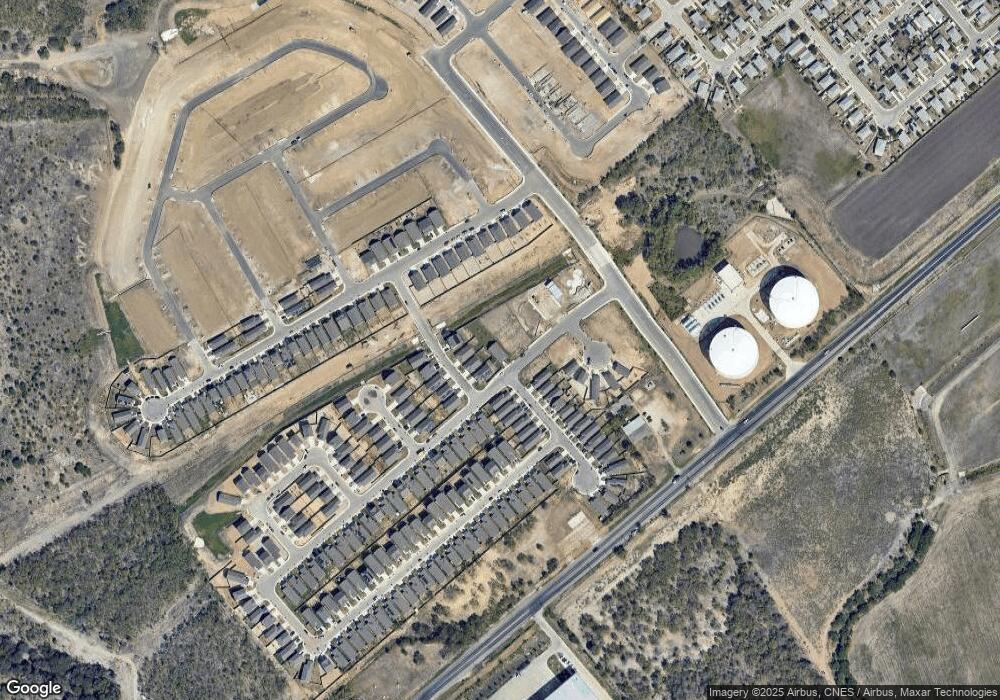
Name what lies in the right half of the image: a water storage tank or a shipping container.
water storage tank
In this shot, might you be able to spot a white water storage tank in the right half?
Yes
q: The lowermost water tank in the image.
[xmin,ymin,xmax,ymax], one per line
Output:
[709,328,760,378]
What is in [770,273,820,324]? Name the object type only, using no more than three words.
water tank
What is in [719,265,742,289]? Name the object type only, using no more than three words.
building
